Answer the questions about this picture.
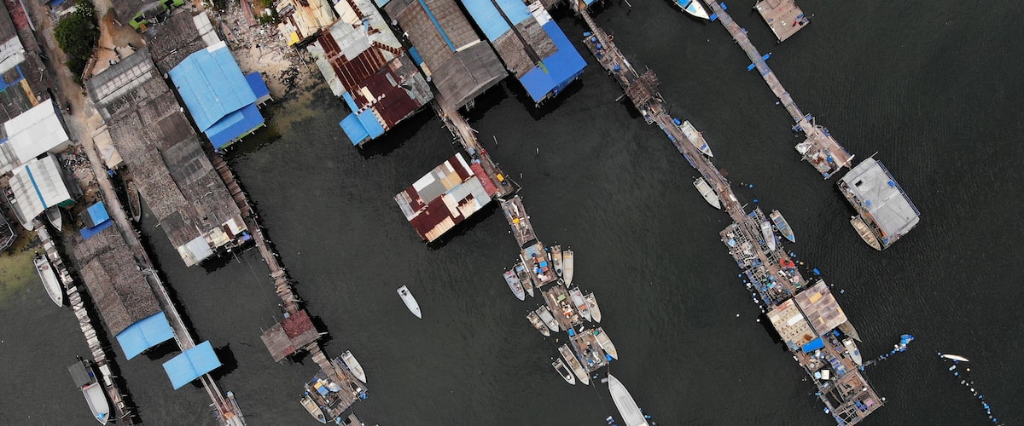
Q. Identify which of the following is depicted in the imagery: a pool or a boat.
boat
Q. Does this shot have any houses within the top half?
Yes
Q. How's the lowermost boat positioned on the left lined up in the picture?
on a diagonal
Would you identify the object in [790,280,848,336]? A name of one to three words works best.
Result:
shed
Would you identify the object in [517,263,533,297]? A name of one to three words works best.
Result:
boat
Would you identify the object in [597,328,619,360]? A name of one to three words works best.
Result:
boat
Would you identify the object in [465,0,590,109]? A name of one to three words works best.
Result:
house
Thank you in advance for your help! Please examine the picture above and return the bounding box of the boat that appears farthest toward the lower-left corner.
[69,359,105,425]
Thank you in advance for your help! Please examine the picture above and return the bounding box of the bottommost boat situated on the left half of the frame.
[300,396,326,425]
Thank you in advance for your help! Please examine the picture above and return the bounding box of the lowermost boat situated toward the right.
[610,376,654,426]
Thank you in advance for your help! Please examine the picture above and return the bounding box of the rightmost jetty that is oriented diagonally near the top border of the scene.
[707,0,810,134]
